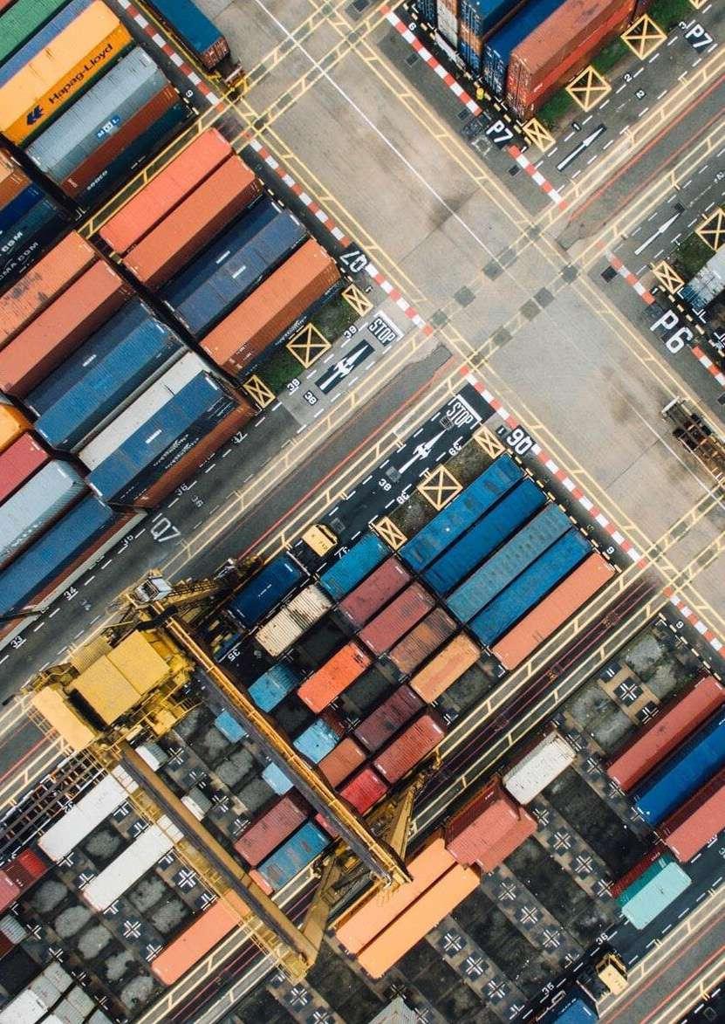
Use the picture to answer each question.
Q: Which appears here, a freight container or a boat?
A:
freight container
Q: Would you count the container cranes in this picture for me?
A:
1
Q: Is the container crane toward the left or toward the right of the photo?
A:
left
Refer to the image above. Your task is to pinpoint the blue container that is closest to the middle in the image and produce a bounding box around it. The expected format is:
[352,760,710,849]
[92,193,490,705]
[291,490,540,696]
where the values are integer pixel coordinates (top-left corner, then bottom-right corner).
[319,529,391,598]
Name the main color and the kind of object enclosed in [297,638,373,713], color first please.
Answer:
orange shipping container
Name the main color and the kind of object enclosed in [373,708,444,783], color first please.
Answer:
red shipping container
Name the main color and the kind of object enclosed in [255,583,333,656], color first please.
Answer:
white shipping container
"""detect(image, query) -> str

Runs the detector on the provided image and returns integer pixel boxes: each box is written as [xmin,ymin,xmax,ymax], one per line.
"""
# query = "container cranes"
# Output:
[11,548,434,992]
